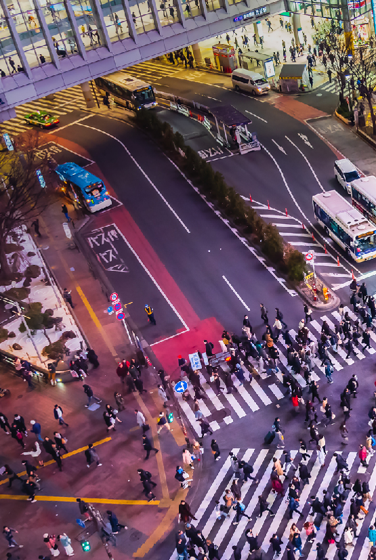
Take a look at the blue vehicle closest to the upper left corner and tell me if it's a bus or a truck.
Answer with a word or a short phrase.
bus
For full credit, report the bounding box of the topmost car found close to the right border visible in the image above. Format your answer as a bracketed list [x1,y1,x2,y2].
[328,152,361,187]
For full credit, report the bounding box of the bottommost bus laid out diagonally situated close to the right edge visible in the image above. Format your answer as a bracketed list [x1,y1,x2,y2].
[315,191,376,263]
